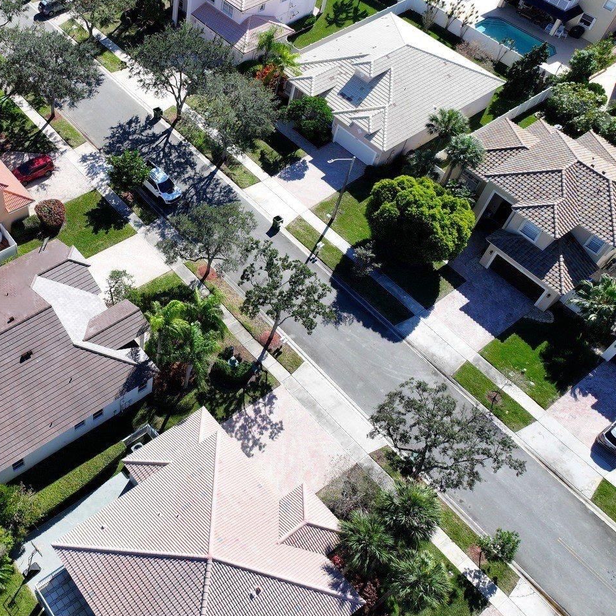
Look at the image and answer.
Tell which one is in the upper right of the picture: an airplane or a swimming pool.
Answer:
swimming pool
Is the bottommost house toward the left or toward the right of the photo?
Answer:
left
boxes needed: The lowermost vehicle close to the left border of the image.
[11,151,60,188]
